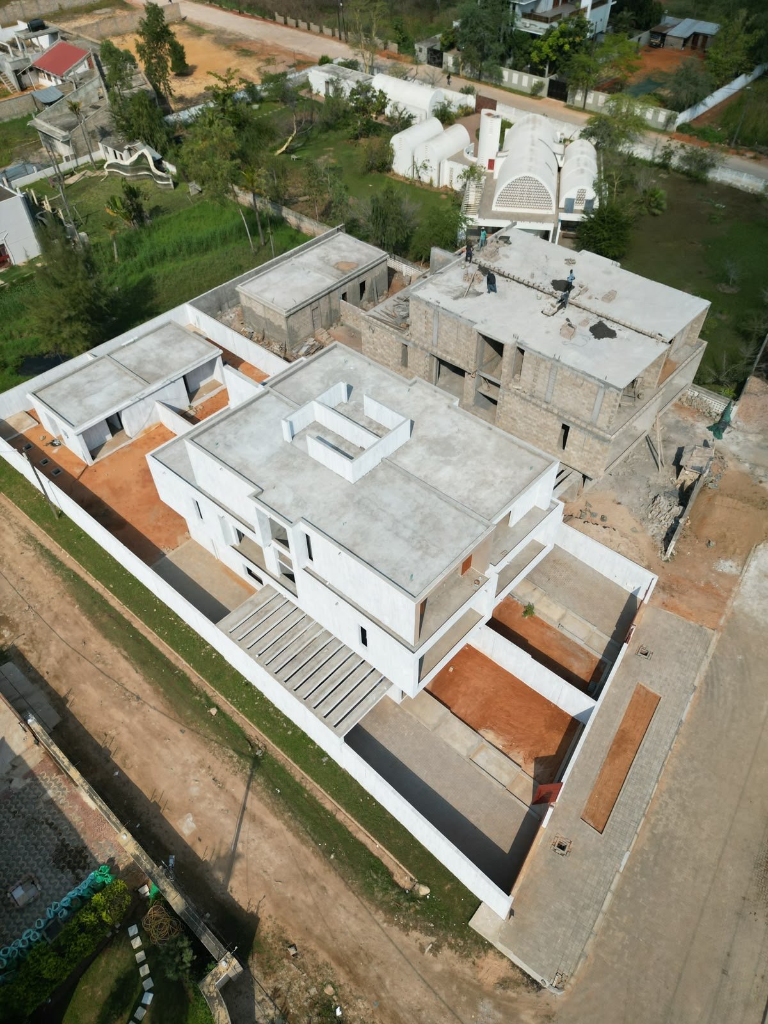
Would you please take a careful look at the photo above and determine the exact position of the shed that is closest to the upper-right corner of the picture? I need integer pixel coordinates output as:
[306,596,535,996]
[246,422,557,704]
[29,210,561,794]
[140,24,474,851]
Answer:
[658,18,713,56]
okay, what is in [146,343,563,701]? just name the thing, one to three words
house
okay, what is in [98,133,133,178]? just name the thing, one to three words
house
